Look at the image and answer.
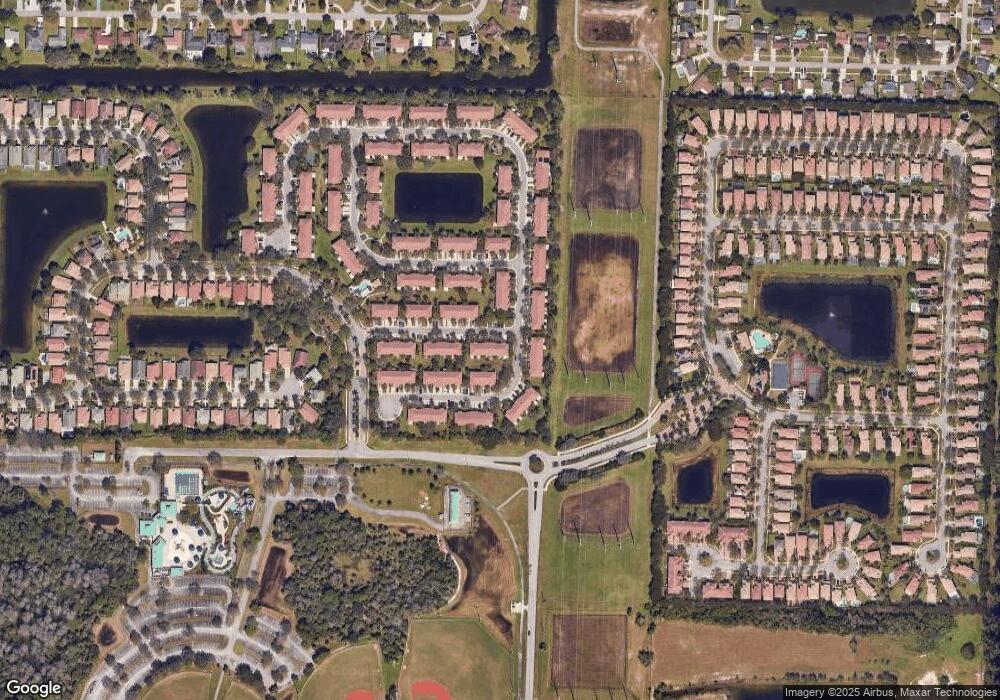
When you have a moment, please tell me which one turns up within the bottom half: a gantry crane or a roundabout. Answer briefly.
roundabout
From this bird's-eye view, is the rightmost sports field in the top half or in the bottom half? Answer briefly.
bottom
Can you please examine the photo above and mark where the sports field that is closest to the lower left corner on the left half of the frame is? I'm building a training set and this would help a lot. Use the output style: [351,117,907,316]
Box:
[137,666,209,700]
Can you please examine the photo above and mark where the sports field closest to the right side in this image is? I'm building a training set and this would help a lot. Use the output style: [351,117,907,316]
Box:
[402,620,513,700]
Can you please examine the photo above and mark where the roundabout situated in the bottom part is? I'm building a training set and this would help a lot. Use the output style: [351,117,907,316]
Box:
[494,449,558,511]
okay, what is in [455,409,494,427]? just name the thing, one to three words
house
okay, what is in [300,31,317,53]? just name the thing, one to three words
house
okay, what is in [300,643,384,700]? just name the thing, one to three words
sports field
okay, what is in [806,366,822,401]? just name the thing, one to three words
tennis court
